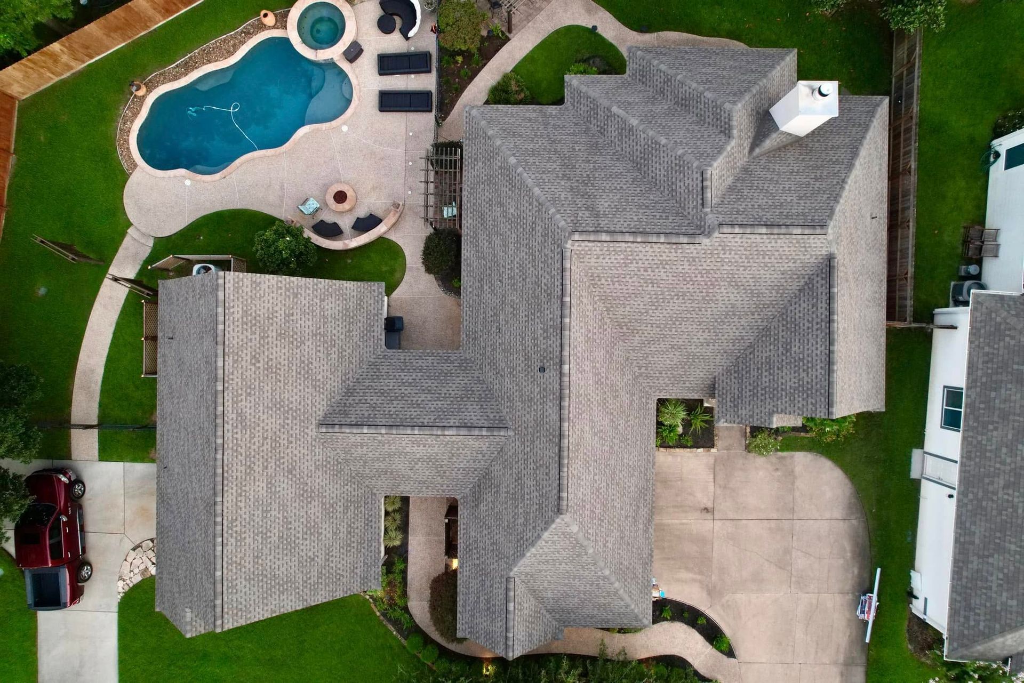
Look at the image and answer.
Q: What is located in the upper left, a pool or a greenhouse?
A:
pool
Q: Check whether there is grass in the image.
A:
Yes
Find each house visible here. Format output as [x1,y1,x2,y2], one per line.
[156,47,889,663]
[914,116,1024,683]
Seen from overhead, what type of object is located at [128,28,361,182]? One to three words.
swimming pool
